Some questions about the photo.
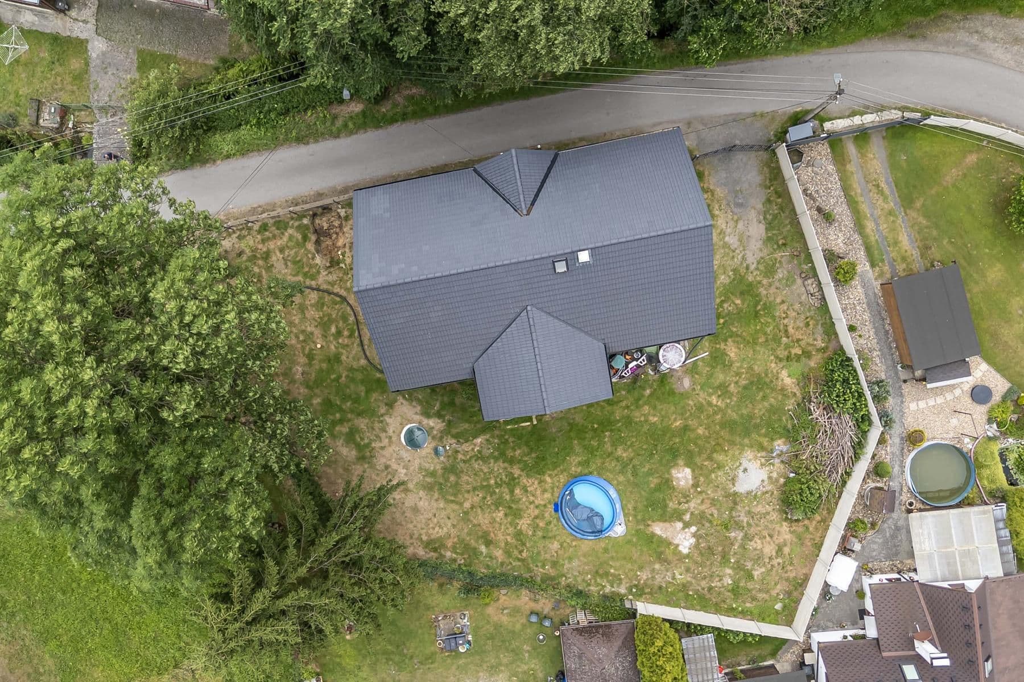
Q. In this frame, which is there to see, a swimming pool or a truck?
swimming pool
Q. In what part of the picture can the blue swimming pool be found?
bottom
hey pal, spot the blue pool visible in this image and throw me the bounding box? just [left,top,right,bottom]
[558,473,624,539]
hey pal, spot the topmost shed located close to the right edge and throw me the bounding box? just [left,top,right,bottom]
[879,264,980,386]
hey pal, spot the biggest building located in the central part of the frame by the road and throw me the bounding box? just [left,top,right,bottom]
[352,125,715,421]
